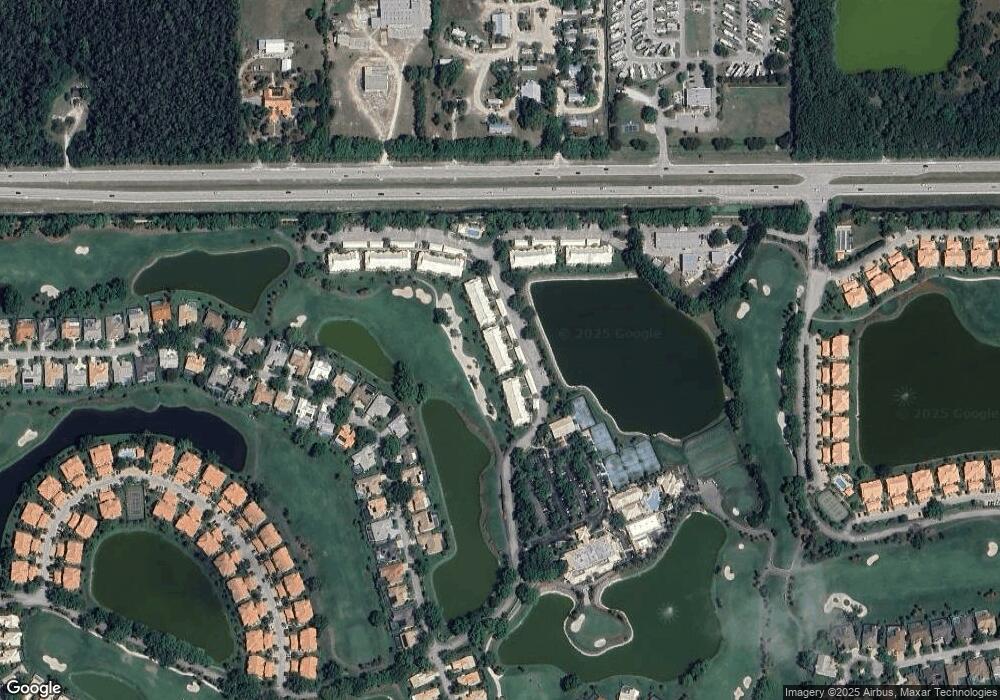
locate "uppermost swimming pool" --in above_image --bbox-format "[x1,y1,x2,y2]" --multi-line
[458,223,484,239]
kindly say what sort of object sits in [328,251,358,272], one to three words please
building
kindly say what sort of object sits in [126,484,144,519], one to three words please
tennis court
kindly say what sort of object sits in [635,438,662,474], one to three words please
tennis court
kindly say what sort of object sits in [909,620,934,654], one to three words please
house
